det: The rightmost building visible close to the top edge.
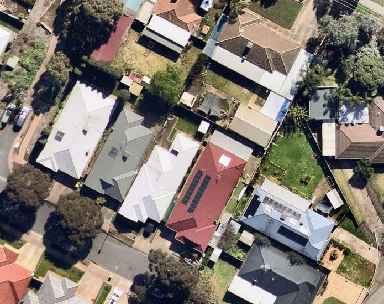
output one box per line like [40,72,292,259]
[204,7,314,100]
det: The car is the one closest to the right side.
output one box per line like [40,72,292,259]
[142,219,156,240]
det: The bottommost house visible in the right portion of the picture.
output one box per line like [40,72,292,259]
[229,240,326,304]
